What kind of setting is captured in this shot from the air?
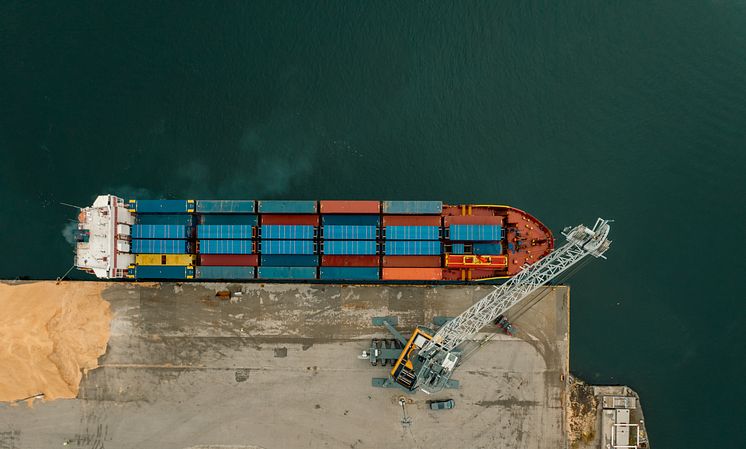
port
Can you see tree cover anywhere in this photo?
No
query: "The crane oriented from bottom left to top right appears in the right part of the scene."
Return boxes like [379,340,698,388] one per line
[358,216,616,396]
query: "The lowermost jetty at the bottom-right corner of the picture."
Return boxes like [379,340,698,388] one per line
[590,383,650,449]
